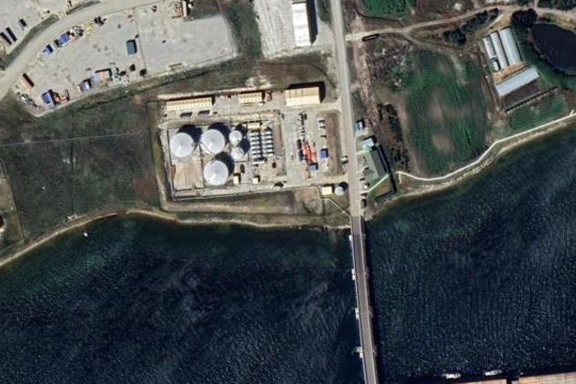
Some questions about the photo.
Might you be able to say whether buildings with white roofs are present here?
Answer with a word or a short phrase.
Yes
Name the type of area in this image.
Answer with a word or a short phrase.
port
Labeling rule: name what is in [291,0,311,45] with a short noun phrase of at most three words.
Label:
building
